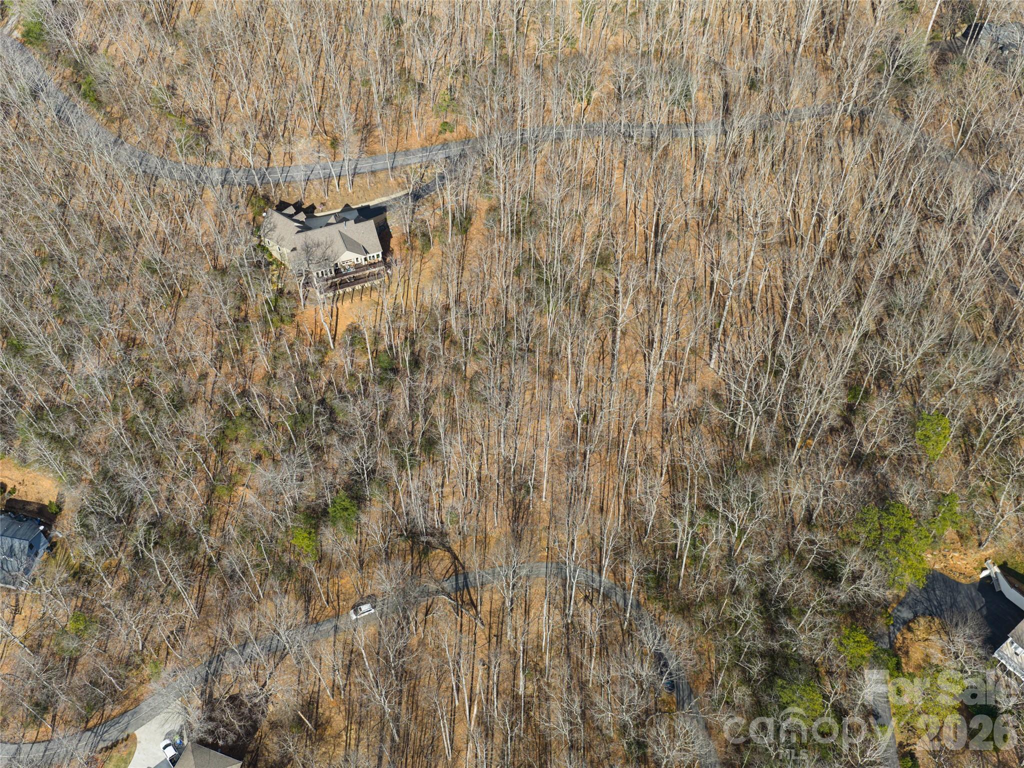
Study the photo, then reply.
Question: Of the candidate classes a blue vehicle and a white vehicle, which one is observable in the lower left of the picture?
white vehicle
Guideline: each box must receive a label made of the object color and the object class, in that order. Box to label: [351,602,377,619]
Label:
white car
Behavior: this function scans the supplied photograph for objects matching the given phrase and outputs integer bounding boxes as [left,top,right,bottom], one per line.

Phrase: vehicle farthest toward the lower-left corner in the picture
[158,737,180,768]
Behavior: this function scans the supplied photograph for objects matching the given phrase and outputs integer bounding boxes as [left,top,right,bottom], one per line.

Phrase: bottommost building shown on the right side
[970,617,1024,707]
